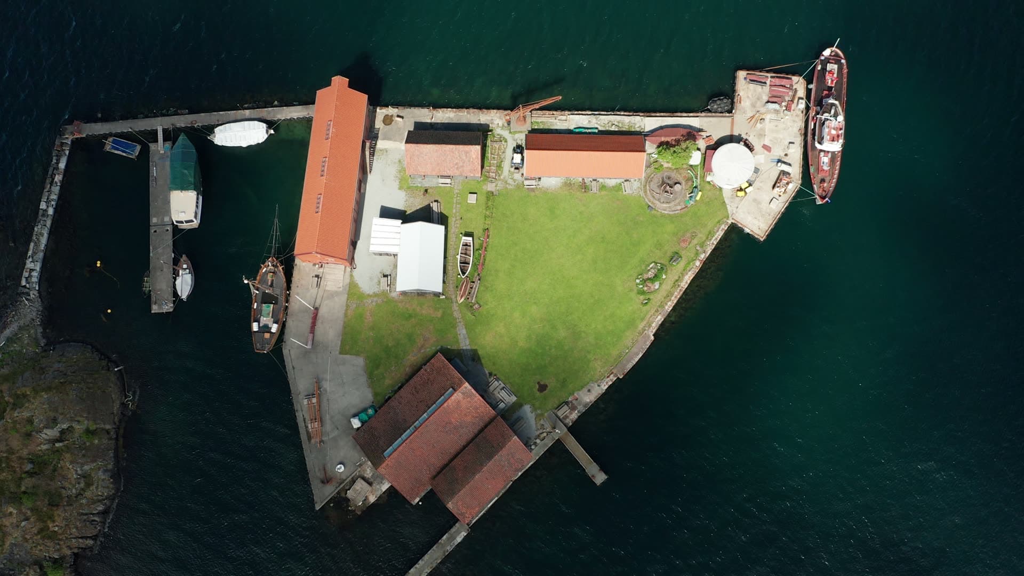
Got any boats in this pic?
Yes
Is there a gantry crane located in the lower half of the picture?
No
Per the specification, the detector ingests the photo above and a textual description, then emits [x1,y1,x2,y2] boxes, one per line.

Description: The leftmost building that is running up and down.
[294,75,370,266]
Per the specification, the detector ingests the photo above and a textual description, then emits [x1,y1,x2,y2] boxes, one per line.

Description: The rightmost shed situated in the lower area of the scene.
[432,417,532,524]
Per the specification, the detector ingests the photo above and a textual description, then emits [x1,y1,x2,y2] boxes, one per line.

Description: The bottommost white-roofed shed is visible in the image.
[396,222,445,294]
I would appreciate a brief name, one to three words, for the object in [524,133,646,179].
shed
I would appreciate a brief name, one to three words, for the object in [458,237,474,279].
boat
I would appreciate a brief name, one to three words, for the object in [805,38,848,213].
ship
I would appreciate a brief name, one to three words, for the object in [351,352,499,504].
building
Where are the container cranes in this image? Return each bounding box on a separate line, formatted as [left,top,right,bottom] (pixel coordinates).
[502,95,562,133]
